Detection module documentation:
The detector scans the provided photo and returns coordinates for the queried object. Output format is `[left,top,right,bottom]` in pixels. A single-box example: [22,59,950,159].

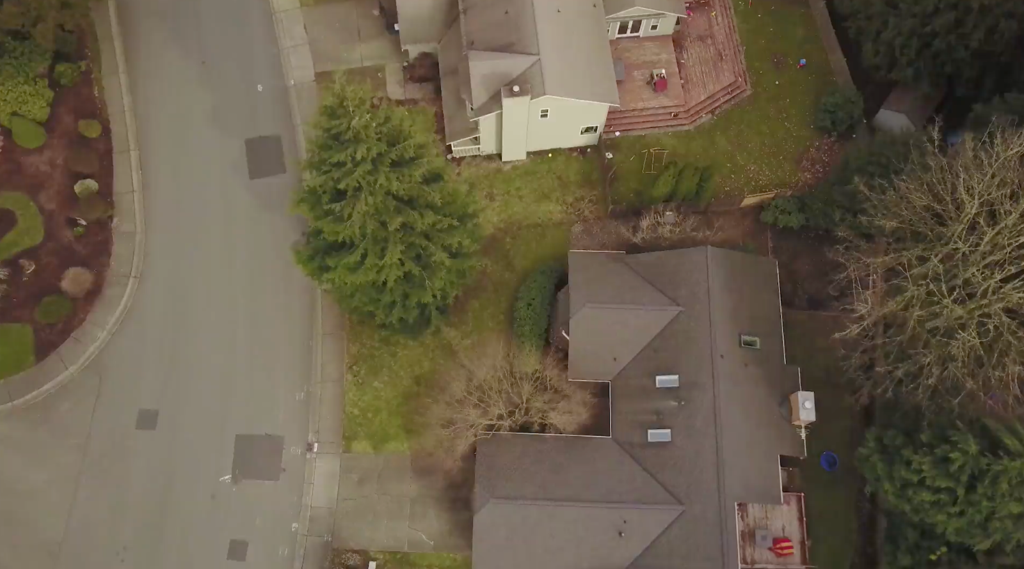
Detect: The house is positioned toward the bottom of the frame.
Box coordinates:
[471,245,819,569]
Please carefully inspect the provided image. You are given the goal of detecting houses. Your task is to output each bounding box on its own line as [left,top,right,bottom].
[471,245,819,569]
[397,0,687,161]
